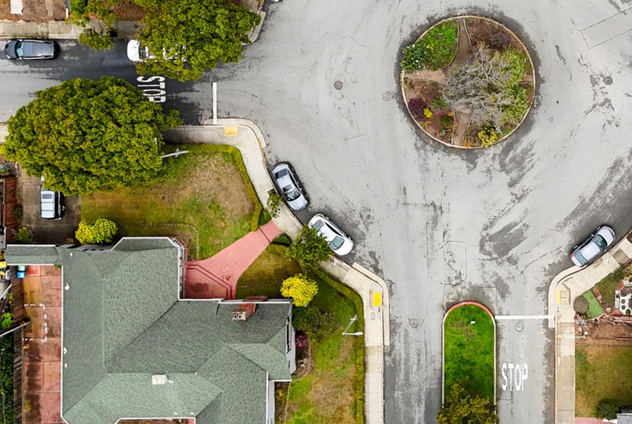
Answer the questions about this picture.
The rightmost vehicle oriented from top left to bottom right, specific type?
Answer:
automobile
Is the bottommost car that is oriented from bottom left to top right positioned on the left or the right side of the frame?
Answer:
right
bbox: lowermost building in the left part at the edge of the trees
[4,235,296,424]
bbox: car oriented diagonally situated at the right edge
[567,221,618,269]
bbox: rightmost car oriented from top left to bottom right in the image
[307,208,356,257]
